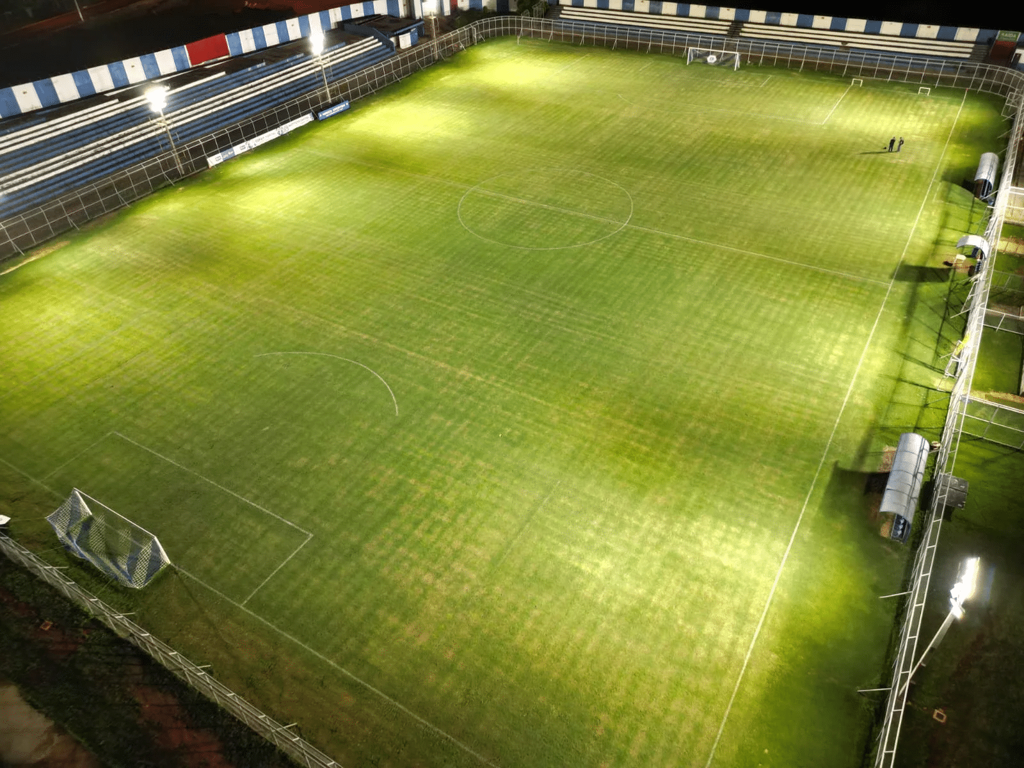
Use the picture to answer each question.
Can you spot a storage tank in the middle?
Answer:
No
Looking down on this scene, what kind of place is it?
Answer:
sports ground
